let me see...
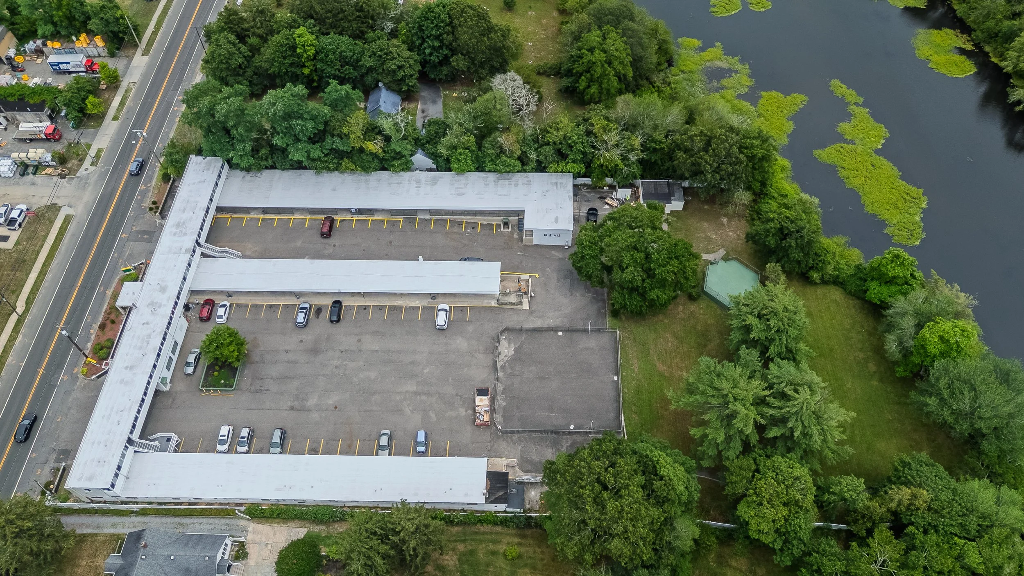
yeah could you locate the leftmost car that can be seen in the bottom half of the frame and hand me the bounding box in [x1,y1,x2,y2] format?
[15,413,38,443]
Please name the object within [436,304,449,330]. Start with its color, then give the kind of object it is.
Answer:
white vehicle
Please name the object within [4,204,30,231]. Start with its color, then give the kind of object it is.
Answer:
white truck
